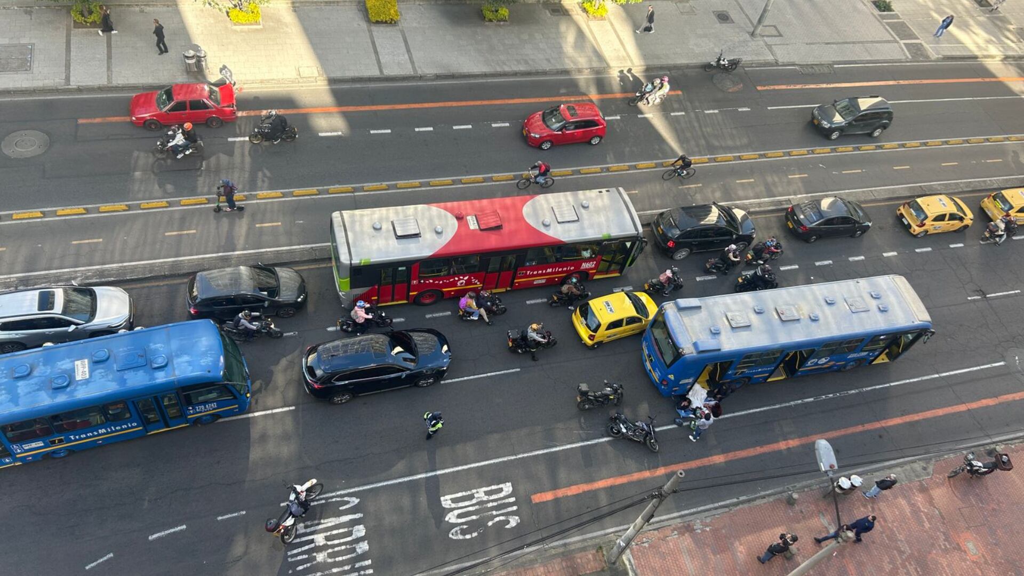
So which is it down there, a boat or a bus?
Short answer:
bus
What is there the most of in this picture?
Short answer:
paved ground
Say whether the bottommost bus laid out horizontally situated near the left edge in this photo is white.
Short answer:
No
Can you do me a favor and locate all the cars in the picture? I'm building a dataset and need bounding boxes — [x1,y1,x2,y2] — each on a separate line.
[0,273,138,355]
[780,190,878,241]
[809,89,895,137]
[899,188,977,235]
[295,318,454,403]
[521,99,610,147]
[648,202,753,259]
[568,285,662,349]
[178,259,309,325]
[125,79,238,128]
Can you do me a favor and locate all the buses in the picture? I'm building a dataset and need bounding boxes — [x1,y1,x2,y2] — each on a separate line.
[333,189,641,311]
[639,279,932,399]
[0,322,251,468]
